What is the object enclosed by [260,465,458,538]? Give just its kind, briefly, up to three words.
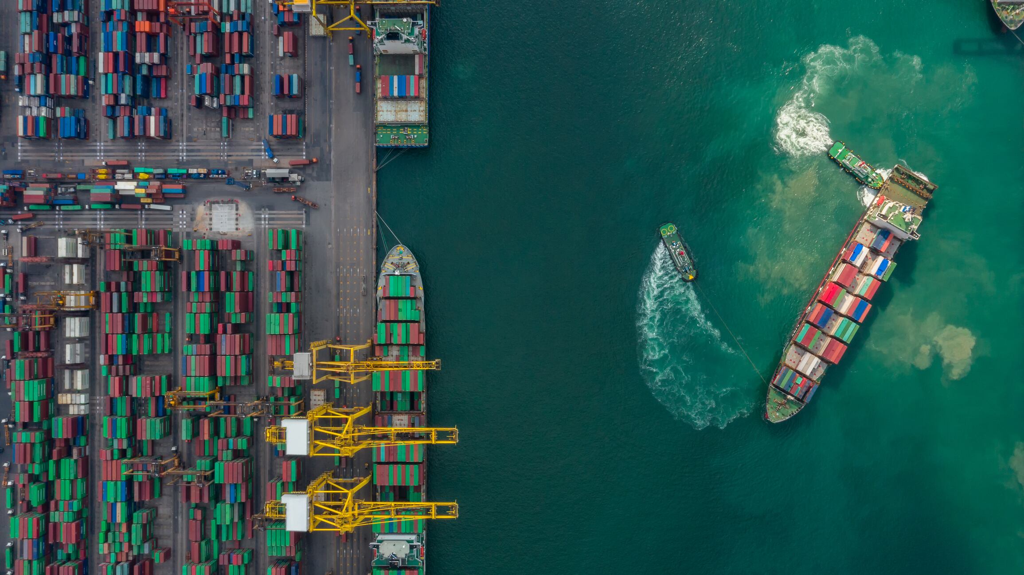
container crane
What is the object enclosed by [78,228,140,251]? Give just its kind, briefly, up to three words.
crane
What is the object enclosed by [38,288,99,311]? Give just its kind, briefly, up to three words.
crane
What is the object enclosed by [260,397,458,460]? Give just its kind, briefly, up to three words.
container crane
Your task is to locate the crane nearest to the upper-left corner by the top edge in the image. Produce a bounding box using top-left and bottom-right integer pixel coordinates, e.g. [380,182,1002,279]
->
[166,0,222,34]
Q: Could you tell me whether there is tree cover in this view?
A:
No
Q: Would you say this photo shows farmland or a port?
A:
port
